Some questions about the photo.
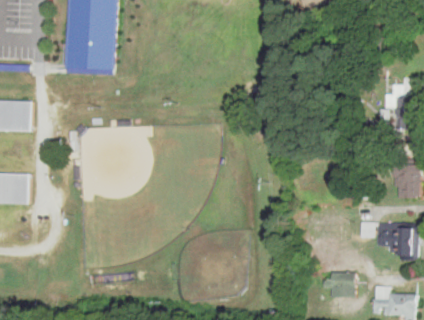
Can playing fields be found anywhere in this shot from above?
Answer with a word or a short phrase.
Yes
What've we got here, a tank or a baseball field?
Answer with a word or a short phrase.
baseball field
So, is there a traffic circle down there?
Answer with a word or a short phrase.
No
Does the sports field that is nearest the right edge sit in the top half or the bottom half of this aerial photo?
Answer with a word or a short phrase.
bottom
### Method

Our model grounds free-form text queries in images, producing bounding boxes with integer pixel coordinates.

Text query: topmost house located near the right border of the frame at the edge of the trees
[380,76,412,128]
